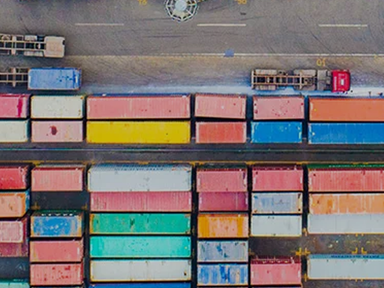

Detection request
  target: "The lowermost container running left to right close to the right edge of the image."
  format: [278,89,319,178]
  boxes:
[308,253,384,279]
